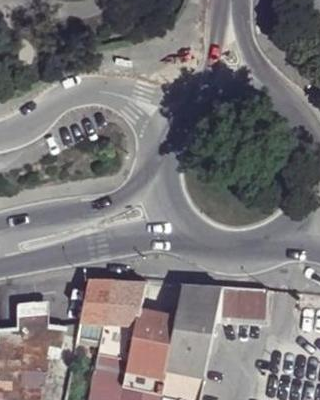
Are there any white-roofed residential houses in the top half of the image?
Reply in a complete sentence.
No, the scene shows no white-roofed residential house in the top half of the image.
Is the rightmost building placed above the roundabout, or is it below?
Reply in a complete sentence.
As seen from overhead, the rightmost building falls below the roundabout in the picture.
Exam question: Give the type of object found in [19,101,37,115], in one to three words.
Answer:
car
